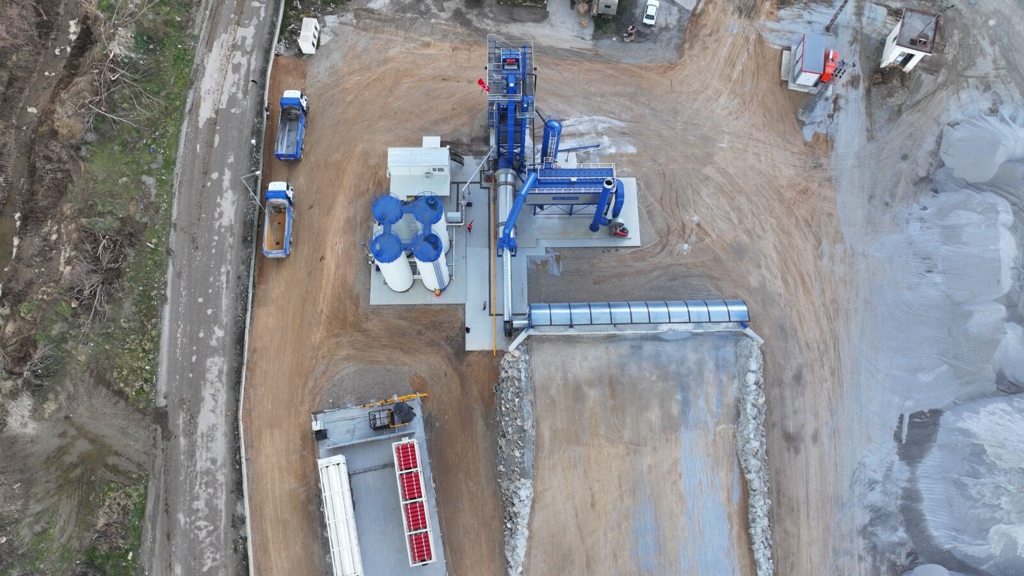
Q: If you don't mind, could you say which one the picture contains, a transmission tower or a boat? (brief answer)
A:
transmission tower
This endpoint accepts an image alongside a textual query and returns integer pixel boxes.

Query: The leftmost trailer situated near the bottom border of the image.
[319,455,370,575]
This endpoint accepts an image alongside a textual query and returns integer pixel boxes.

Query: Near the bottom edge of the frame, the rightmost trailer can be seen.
[391,438,439,567]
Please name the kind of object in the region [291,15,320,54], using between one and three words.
building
